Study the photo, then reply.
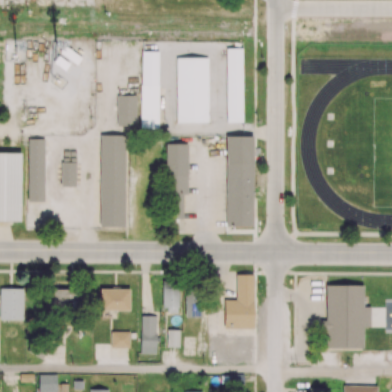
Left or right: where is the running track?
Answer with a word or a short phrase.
right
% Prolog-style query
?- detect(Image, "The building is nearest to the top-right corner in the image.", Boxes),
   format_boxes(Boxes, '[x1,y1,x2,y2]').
[228,47,244,122]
